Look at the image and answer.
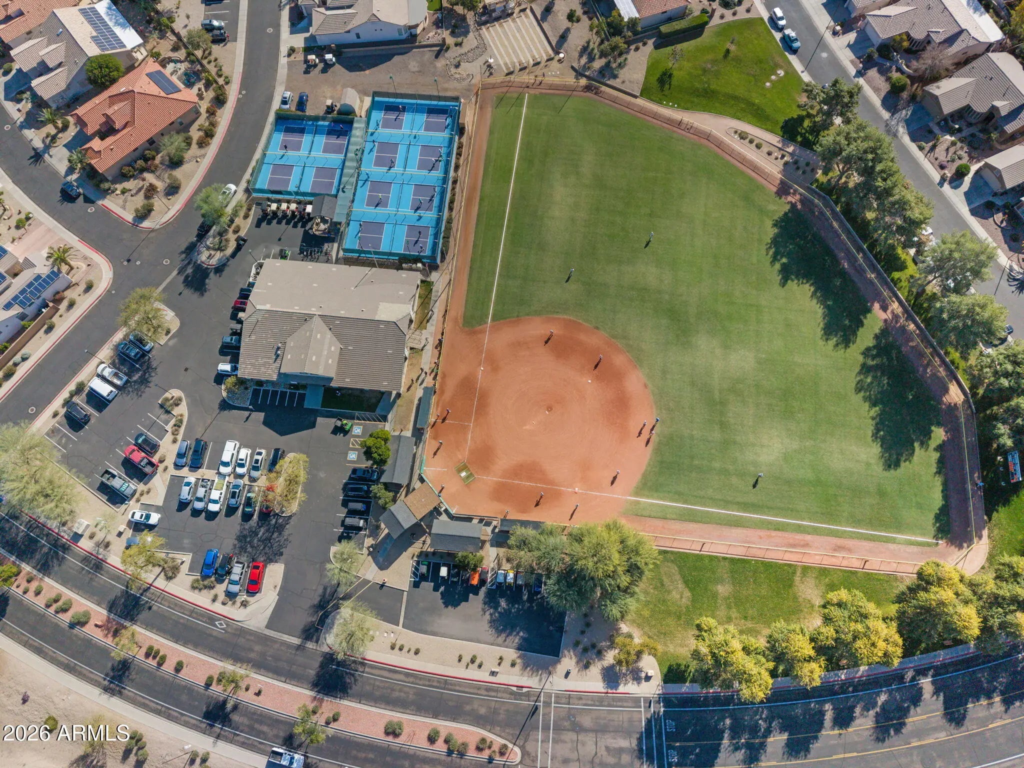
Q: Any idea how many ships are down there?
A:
0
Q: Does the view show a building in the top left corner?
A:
Yes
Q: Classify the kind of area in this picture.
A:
sports ground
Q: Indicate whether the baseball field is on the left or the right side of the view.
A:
right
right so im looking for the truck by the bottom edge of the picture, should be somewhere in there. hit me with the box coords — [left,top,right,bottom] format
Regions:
[264,746,306,768]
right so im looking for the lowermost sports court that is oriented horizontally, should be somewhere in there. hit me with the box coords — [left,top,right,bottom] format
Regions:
[357,219,431,254]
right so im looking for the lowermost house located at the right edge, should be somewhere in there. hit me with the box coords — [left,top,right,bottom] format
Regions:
[976,144,1024,196]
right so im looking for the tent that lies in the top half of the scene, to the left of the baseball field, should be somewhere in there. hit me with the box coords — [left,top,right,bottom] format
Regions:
[335,81,361,115]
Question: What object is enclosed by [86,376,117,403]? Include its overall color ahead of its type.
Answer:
white vehicle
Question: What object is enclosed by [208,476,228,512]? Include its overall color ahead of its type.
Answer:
white vehicle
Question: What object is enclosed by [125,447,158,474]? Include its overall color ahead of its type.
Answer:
red truck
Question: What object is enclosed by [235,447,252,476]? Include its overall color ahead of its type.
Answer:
white car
